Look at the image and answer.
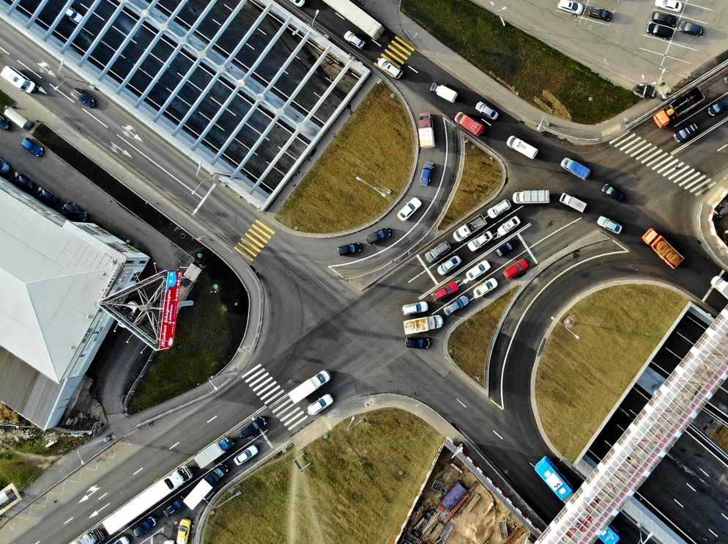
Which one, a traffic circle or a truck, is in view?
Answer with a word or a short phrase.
truck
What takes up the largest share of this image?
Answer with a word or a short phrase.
paved ground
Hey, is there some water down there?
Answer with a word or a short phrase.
No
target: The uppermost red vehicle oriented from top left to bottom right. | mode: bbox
[453,113,486,139]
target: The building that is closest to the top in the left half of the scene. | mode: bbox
[0,175,150,432]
